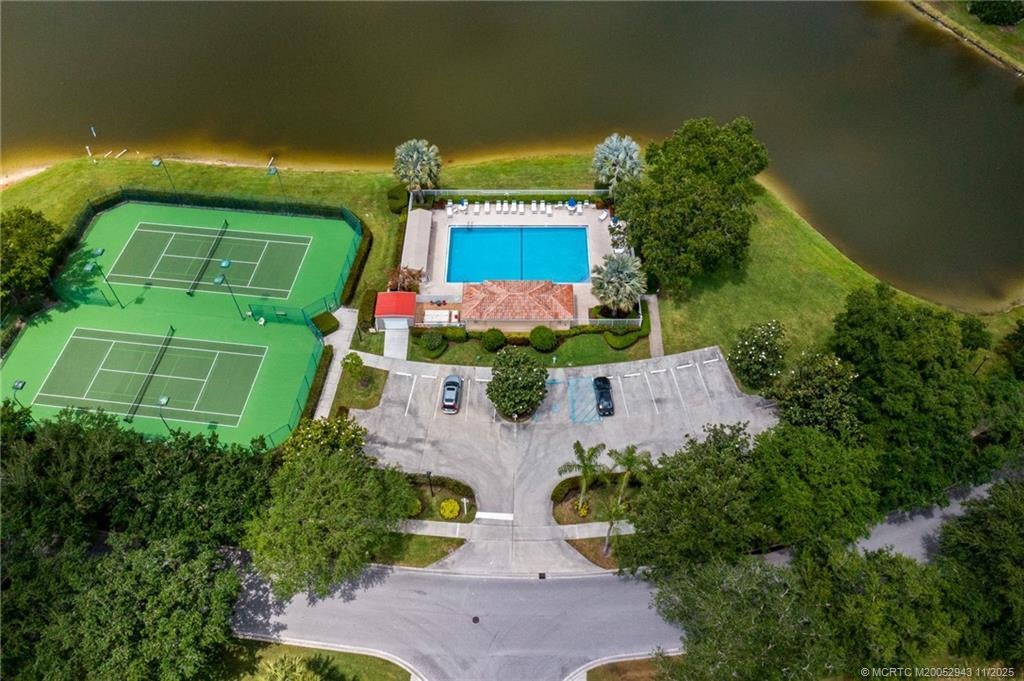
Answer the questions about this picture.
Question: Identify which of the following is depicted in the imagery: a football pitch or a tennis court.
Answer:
tennis court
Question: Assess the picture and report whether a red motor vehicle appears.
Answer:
No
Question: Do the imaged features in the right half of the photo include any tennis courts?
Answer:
No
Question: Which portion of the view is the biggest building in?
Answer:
center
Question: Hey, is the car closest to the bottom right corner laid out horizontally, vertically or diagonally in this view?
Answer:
vertically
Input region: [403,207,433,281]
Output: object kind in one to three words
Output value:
building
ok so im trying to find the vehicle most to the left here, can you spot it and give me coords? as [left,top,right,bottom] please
[442,377,463,414]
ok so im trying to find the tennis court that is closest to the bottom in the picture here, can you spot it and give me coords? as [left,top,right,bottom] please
[0,299,322,459]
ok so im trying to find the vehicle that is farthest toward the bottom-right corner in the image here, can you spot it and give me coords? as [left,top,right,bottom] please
[593,379,613,416]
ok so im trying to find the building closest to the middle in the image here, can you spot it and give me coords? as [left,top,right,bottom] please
[460,279,575,334]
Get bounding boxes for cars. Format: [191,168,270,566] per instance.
[593,379,613,416]
[442,377,463,414]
